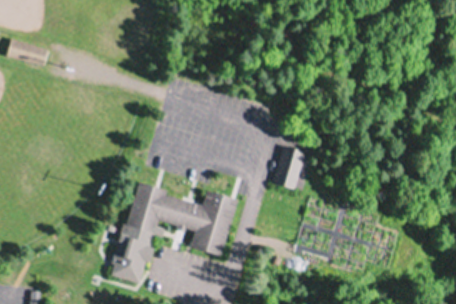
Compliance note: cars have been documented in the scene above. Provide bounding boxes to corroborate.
[148,280,154,289]
[156,284,161,292]
[271,160,276,170]
[155,158,160,168]
[190,169,195,178]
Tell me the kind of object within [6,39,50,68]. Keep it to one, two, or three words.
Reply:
shed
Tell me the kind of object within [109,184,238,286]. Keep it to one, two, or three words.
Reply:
building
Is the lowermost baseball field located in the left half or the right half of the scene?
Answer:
left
